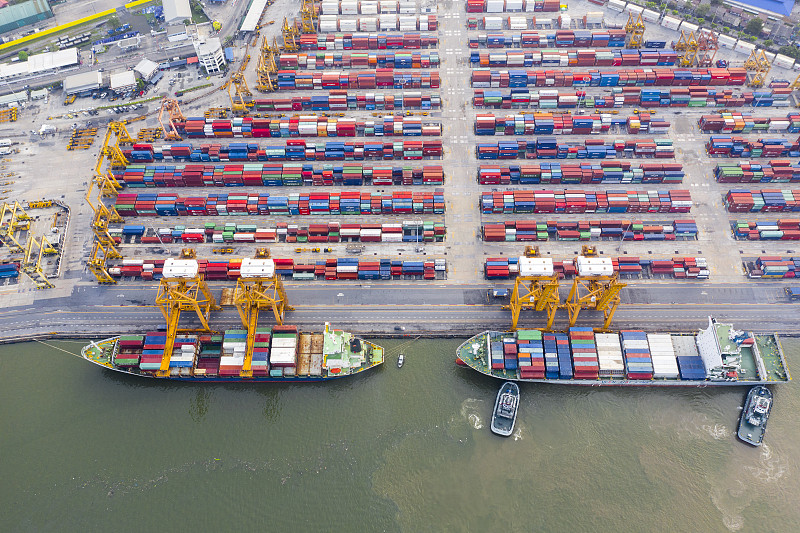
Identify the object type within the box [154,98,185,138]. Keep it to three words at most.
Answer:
crane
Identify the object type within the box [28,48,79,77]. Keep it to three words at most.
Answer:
building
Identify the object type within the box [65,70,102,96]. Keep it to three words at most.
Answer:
shed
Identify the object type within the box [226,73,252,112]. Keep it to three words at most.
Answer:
crane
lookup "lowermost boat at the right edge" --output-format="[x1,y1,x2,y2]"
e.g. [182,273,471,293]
[738,386,773,447]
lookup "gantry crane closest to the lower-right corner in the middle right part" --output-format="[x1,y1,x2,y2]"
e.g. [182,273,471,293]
[559,247,635,331]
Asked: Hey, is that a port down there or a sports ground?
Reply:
port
